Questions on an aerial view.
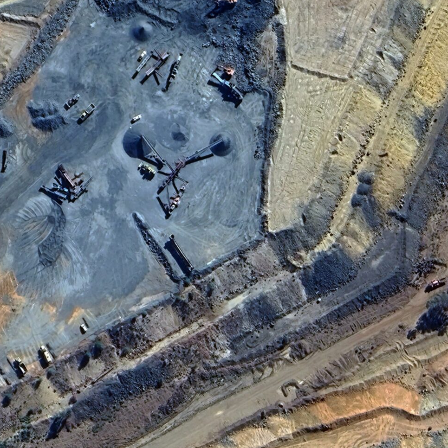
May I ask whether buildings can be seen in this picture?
No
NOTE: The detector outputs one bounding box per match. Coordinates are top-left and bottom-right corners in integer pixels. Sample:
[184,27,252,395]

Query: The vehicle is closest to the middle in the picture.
[169,234,194,269]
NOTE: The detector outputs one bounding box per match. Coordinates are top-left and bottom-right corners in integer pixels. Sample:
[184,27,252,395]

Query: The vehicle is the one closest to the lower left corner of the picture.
[14,356,28,374]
